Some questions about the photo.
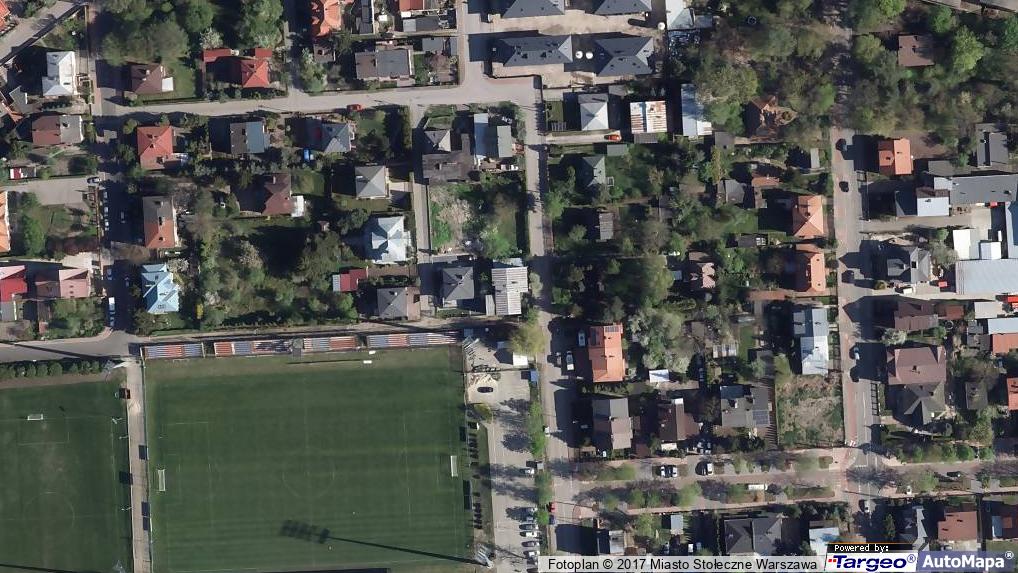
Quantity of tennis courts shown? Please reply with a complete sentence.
There are no tennis courts in this view.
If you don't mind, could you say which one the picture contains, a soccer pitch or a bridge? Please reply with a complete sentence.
It is a soccer pitch that can be seen here.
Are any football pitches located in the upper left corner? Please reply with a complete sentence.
No, I see no football pitch in the upper left corner.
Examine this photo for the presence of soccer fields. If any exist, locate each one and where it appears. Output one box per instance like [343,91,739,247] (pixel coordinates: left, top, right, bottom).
[144,343,476,573]
[0,382,133,573]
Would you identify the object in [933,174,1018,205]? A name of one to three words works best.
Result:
building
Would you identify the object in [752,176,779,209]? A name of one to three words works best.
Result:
shed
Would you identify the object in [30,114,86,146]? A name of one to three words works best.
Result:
house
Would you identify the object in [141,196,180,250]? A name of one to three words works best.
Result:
house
